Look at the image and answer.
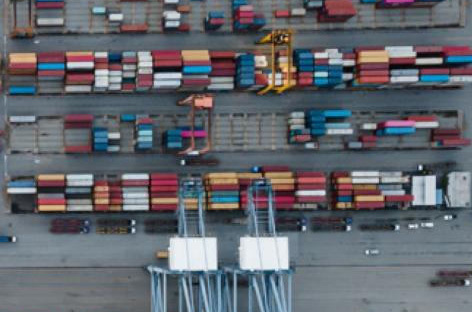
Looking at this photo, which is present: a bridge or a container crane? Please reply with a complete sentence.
I can see a container crane in this picture.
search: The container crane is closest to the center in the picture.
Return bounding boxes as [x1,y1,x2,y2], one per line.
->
[175,95,214,156]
